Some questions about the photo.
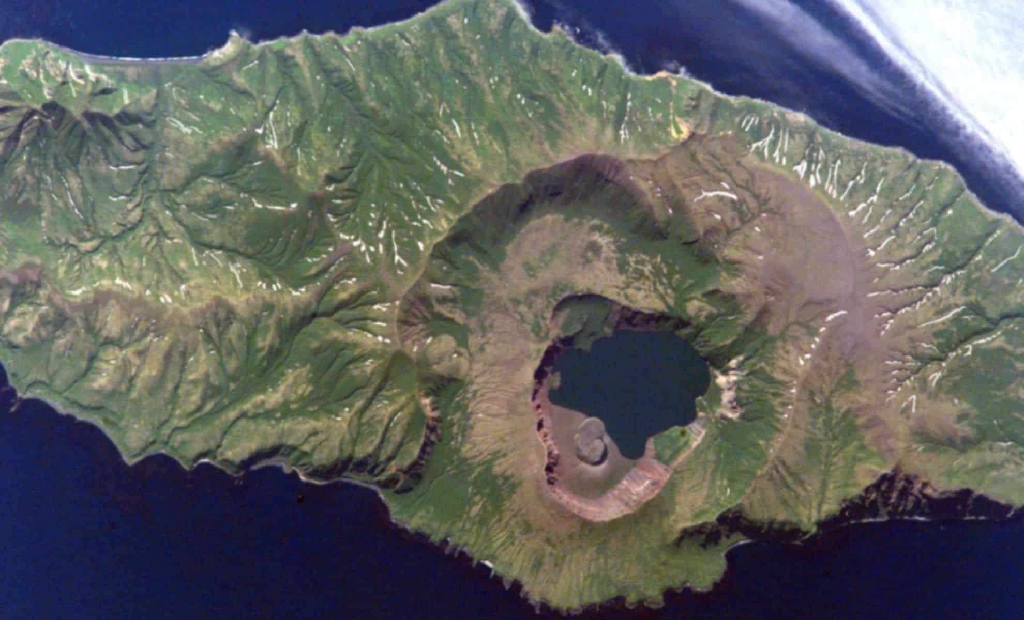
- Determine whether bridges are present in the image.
No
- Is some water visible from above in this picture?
Yes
